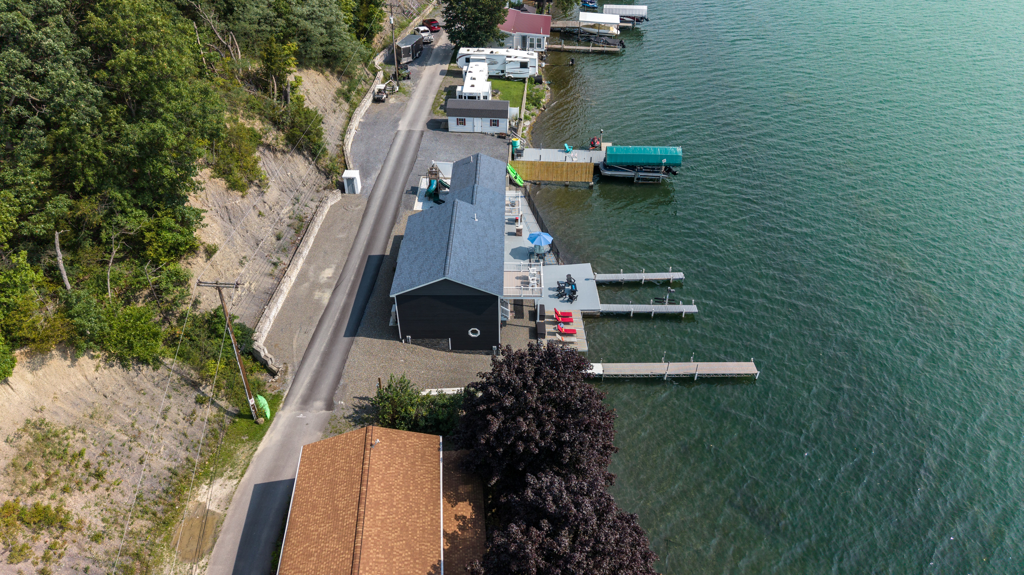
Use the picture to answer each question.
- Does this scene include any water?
Yes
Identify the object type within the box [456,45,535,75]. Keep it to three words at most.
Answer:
camper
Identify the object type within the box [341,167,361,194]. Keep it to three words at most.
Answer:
shed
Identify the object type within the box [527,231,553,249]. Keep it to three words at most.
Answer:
umbrella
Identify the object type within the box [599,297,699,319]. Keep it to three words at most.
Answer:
pier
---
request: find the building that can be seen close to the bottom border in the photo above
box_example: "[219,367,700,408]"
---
[276,425,490,575]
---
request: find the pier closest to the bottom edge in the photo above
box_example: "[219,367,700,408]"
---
[574,351,760,381]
